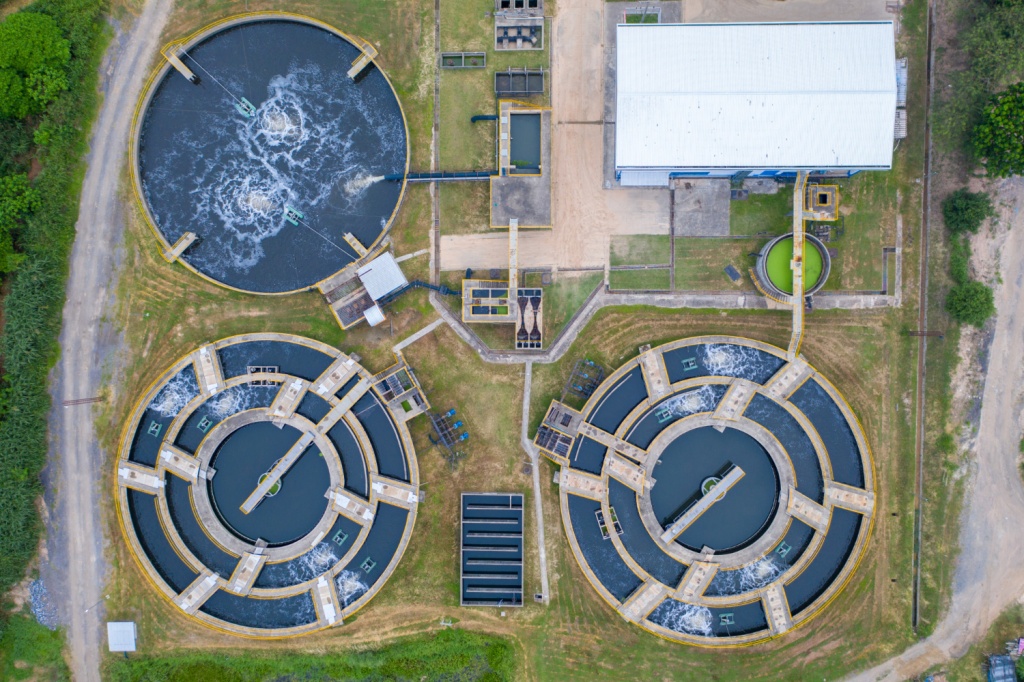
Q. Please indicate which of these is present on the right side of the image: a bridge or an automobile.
bridge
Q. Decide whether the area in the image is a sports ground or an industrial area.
industrial area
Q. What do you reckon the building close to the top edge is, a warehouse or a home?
warehouse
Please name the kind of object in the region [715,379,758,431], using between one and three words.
bridge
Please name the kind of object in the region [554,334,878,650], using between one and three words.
water tank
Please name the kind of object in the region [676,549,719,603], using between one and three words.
bridge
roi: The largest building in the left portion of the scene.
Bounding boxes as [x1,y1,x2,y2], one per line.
[314,240,409,328]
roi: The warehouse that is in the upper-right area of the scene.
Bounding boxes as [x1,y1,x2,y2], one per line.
[615,23,897,193]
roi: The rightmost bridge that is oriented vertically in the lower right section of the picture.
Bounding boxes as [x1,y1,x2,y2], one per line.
[761,585,794,638]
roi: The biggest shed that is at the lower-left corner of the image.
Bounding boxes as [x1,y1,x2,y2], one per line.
[107,619,138,658]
